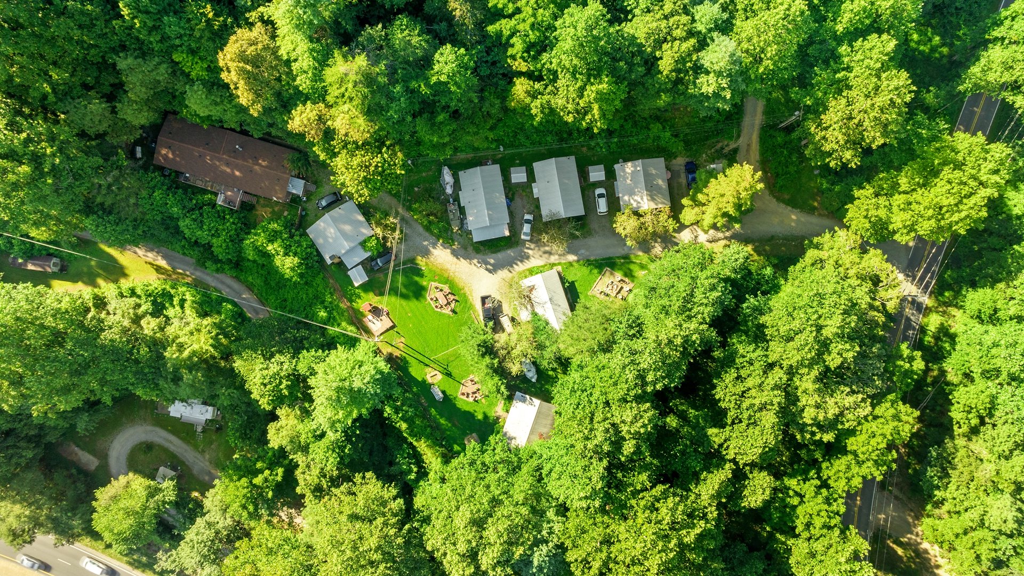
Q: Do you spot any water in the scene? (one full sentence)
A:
No, the scene doesn't show any water.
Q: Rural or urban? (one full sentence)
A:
It looks rural.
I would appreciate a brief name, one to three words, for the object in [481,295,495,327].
vehicle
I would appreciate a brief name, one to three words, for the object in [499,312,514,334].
vehicle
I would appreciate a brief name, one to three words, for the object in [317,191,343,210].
car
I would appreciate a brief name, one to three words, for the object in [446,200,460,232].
boat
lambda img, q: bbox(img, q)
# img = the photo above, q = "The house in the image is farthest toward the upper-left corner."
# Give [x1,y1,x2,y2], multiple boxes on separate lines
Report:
[153,114,317,210]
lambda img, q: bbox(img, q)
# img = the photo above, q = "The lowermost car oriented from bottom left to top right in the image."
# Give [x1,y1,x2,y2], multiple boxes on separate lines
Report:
[371,250,396,271]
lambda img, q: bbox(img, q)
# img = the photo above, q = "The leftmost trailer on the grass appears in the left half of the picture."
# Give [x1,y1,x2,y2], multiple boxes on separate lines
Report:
[9,255,72,275]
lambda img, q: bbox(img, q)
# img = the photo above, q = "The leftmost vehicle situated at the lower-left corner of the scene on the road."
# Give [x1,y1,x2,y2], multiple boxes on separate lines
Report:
[17,553,45,571]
